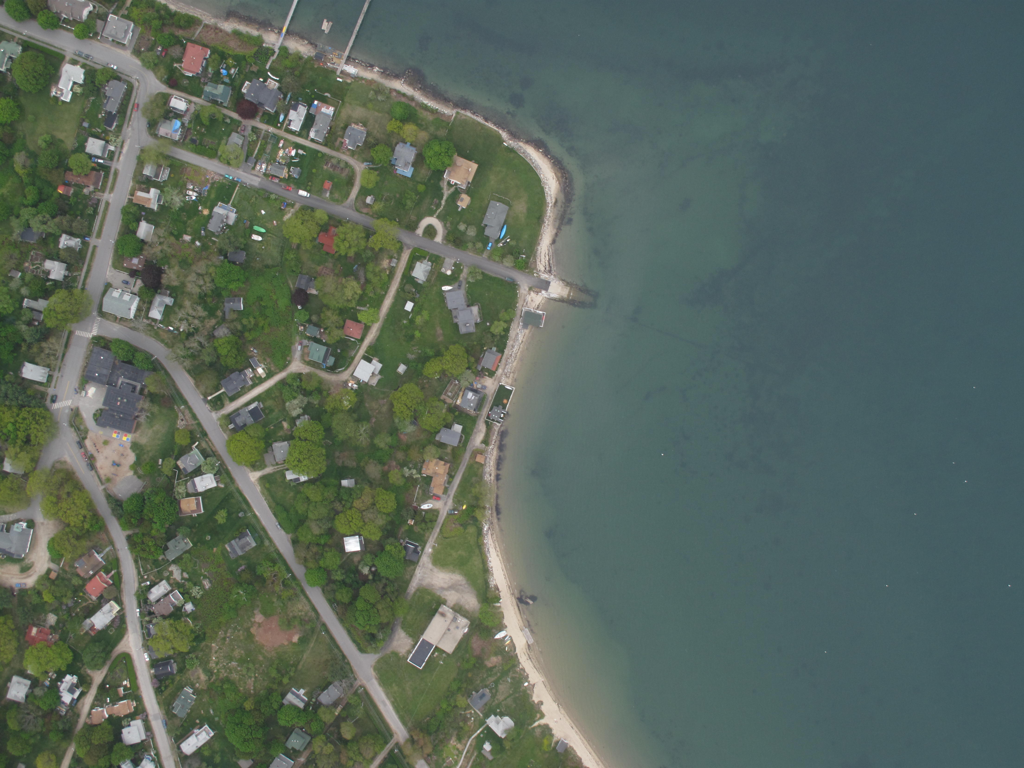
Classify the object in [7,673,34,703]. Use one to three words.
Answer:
house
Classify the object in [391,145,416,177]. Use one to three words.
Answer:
house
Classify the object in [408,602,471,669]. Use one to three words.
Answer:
building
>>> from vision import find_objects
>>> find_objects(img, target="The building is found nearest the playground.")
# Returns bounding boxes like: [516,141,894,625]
[85,348,156,433]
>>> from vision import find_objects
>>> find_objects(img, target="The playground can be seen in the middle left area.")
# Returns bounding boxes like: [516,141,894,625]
[84,430,135,482]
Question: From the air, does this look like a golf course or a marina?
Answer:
marina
